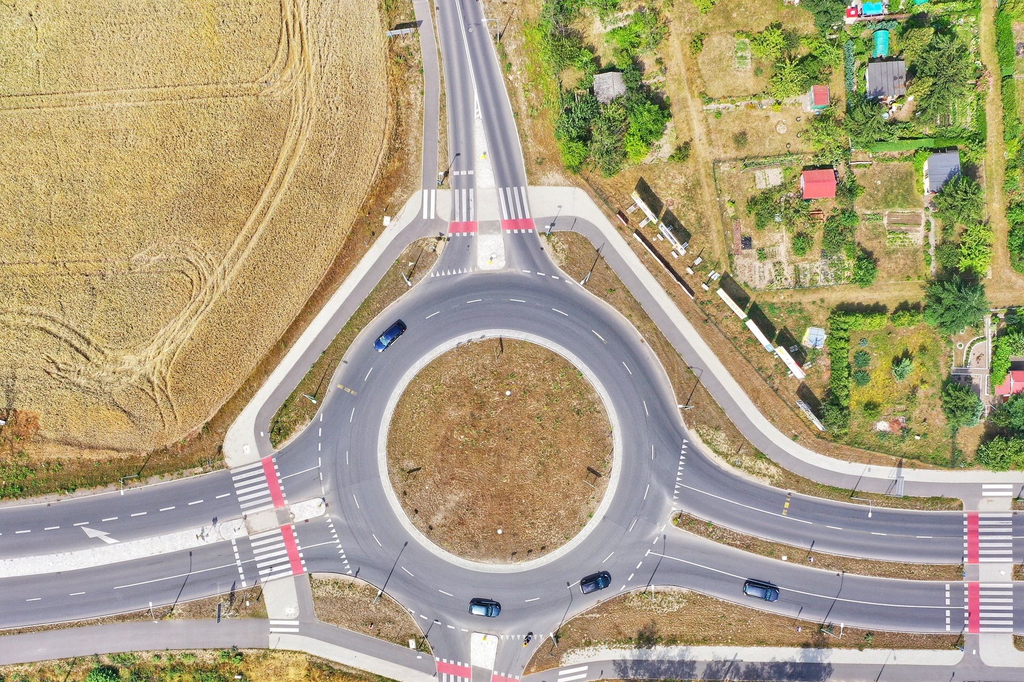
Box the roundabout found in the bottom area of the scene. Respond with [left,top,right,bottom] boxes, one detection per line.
[319,265,715,640]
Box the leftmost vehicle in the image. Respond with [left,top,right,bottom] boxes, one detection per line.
[373,322,405,352]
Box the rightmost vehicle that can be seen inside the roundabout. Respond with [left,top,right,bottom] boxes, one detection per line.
[579,574,611,595]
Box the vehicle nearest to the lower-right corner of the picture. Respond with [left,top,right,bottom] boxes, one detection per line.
[743,584,778,602]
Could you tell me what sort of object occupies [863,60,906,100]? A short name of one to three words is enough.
shed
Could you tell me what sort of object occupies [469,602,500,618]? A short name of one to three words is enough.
car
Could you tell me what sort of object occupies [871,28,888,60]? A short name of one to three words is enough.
greenhouse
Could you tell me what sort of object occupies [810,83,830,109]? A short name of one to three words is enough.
shed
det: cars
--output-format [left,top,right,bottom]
[579,574,611,595]
[469,602,500,618]
[743,584,778,602]
[373,322,405,352]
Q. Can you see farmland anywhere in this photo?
Yes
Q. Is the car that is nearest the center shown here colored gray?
No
